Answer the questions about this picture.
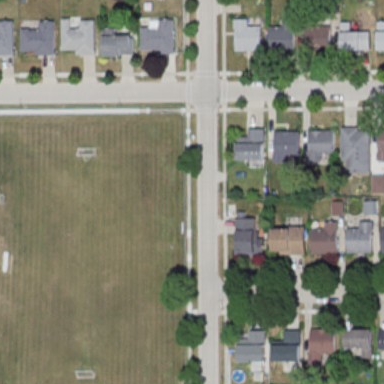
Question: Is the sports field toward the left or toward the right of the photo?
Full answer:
You can find the sports field on the left side of the picture.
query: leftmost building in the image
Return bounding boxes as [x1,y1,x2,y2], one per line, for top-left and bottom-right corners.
[0,22,15,56]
